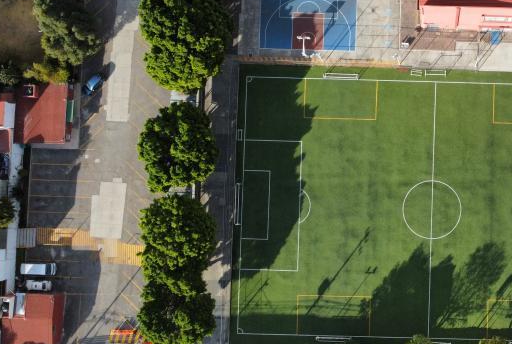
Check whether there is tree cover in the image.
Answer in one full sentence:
Yes, there is tree cover in the image.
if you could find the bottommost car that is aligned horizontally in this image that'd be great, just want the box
[25,280,53,292]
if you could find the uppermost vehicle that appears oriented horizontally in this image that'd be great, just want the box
[16,263,57,278]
